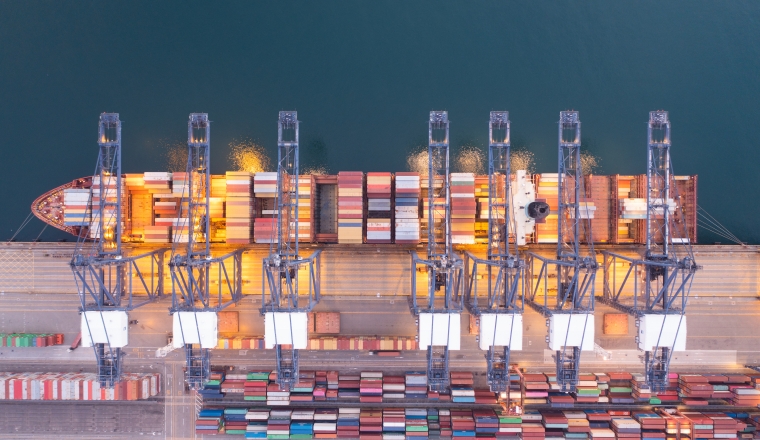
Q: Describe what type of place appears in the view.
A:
port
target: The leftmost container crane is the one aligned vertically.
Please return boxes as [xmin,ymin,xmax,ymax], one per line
[68,110,180,388]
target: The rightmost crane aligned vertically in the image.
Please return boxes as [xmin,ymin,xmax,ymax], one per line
[591,110,700,388]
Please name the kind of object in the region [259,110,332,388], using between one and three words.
container crane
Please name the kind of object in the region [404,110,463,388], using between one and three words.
container crane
